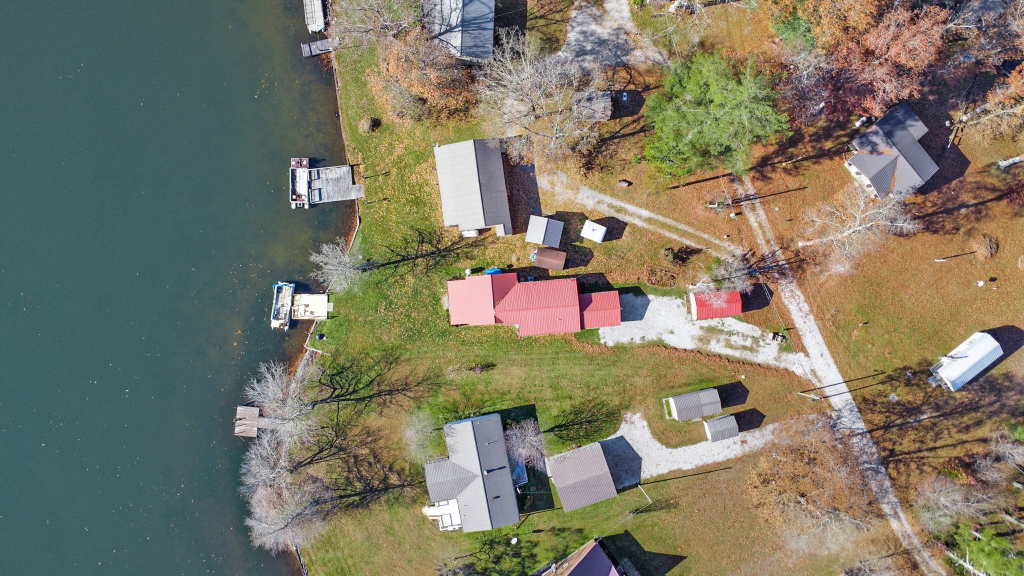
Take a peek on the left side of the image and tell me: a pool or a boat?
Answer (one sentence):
The one visible on the left side of the image is a boat.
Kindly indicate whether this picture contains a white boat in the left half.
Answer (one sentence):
Yes, a white boat is visible in the left half.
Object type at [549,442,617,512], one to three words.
building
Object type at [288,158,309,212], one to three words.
boat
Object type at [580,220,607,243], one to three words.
shed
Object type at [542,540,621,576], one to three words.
house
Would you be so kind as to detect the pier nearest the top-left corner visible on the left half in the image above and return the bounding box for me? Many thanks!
[300,38,337,59]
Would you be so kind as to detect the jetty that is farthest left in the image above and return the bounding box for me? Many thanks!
[231,405,286,438]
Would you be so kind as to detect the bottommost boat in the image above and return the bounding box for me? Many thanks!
[269,280,296,333]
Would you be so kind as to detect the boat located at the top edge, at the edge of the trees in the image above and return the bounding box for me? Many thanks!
[303,0,327,38]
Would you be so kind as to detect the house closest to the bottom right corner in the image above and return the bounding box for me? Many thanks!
[929,333,1004,394]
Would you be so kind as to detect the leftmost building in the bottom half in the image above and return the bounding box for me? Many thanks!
[425,413,520,532]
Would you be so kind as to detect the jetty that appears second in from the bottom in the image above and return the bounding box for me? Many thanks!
[290,293,334,320]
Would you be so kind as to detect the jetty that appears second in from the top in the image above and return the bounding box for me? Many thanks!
[306,164,364,205]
